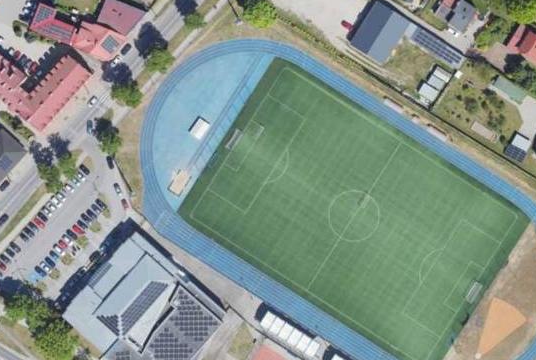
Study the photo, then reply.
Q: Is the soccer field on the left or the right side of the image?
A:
right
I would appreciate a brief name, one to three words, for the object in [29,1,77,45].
building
